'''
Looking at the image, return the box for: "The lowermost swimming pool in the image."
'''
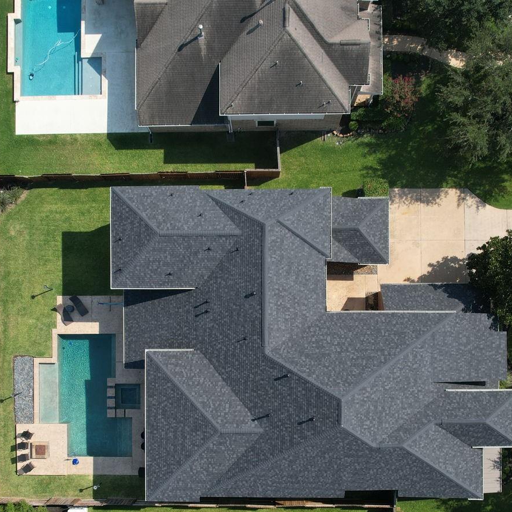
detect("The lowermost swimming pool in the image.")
[39,334,140,457]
